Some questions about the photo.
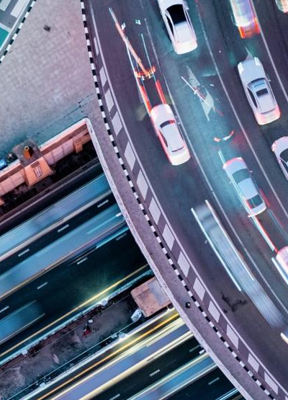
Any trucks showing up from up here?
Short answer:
Yes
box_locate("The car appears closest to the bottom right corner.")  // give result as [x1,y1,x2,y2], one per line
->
[165,351,220,392]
